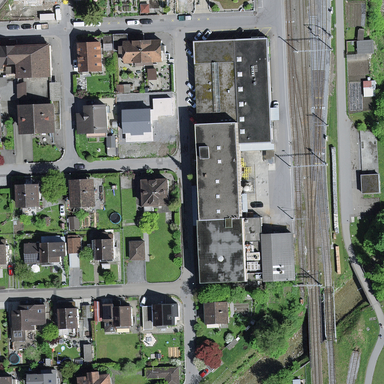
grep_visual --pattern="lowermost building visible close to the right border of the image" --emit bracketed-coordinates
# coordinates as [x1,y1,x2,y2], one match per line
[361,173,379,194]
